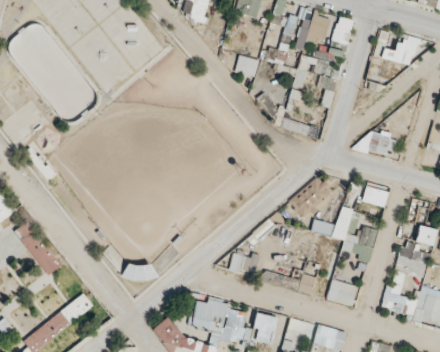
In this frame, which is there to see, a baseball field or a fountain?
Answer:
baseball field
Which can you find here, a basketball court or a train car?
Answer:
basketball court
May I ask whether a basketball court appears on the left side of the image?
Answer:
Yes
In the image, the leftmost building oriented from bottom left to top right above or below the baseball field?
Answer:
below it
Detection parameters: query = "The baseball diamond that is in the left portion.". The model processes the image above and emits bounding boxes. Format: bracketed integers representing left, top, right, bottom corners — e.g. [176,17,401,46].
[53,101,244,258]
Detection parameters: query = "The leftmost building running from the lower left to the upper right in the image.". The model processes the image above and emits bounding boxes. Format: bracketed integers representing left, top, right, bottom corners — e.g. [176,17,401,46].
[24,294,92,352]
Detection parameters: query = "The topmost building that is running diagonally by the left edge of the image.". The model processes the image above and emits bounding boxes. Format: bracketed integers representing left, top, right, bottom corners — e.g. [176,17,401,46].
[16,224,58,274]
